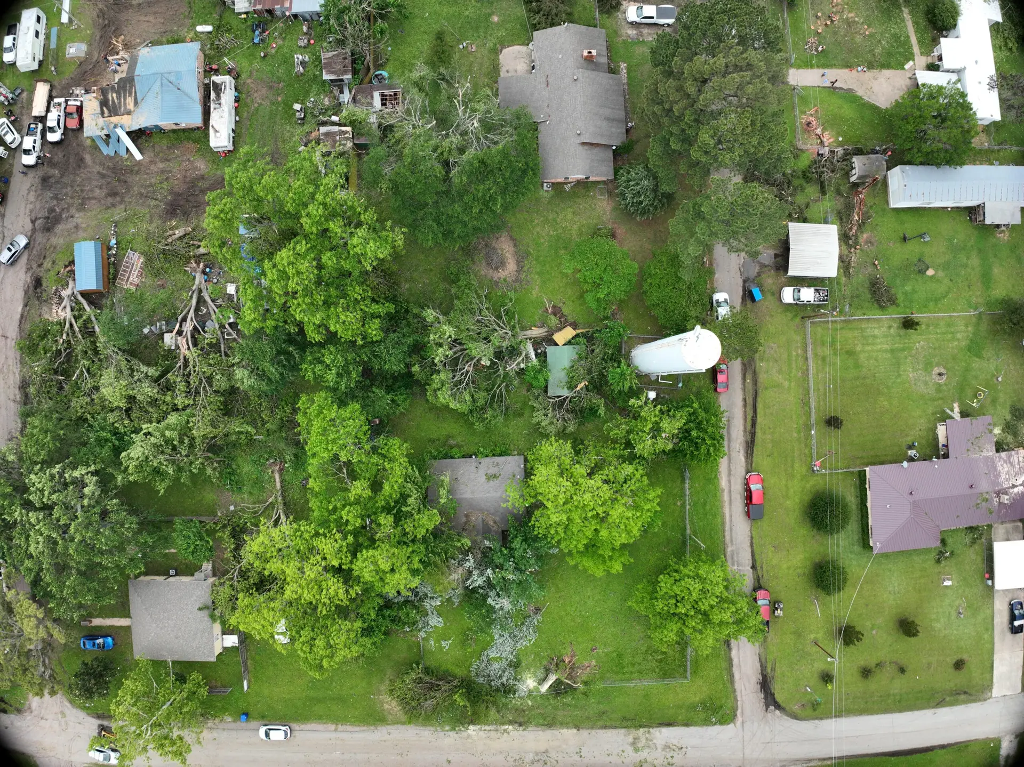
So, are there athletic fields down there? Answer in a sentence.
No, no athletic field is visible in the scene.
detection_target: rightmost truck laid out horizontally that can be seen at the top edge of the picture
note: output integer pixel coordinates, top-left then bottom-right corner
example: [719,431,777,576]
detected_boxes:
[626,4,677,27]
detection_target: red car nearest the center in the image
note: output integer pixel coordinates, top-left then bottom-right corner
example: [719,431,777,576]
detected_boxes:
[712,359,730,394]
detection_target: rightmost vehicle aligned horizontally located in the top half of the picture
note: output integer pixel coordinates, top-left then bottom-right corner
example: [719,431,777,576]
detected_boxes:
[781,286,830,304]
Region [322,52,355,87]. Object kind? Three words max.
shed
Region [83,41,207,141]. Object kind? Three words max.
house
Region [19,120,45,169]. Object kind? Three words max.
truck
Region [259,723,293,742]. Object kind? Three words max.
car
